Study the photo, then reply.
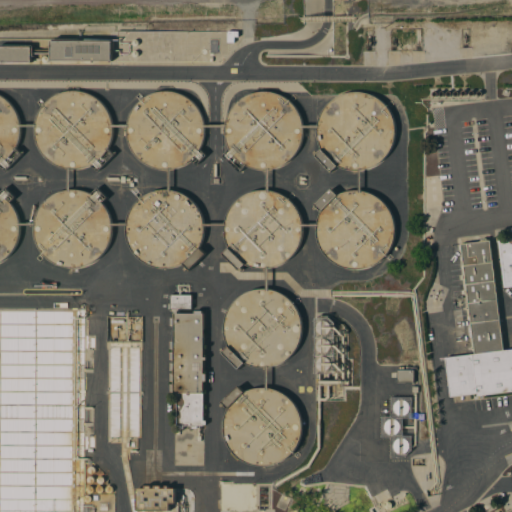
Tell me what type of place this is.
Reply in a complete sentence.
This image shows an industrial area.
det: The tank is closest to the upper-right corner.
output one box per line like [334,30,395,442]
[316,92,396,171]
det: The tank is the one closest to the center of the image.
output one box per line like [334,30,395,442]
[222,190,302,269]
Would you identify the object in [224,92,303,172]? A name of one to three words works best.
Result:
storage tank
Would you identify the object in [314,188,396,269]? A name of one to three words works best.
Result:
storage tank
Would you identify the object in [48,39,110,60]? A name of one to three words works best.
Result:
shed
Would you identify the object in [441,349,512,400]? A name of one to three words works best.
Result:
building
